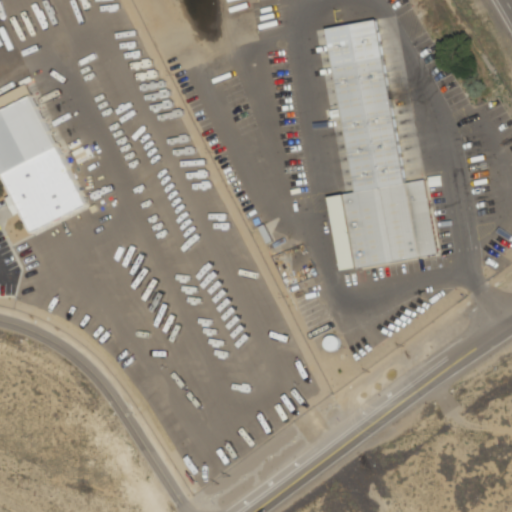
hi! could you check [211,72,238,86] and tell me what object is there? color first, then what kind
white vehicle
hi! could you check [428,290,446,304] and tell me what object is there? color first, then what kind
white vehicle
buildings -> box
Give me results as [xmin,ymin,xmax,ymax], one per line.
[0,96,88,234]
[324,20,419,269]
